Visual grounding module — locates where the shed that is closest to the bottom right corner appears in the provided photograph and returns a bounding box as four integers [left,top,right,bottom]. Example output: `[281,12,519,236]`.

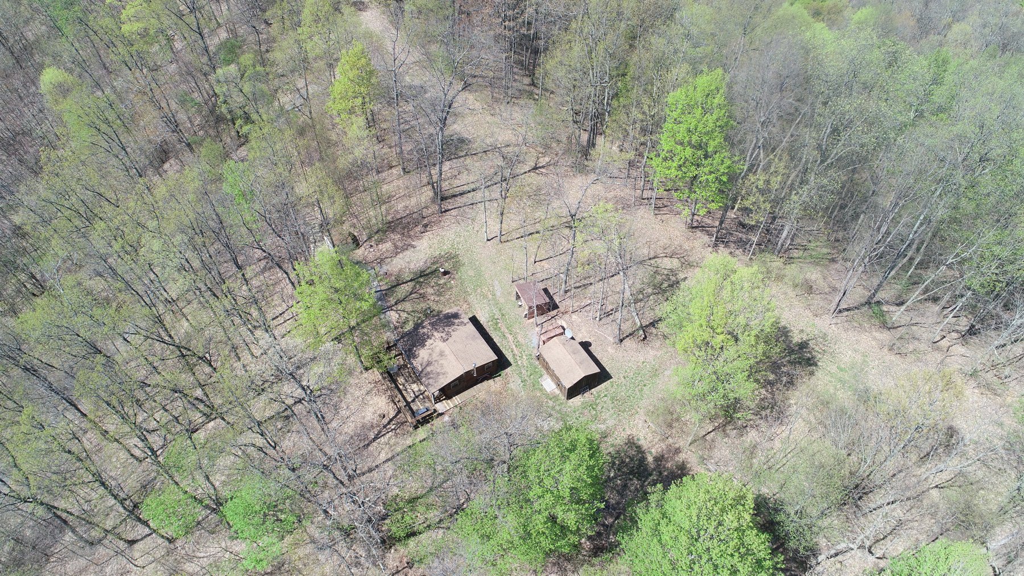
[539,336,600,397]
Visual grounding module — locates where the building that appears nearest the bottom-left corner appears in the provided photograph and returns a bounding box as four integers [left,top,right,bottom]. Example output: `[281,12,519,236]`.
[394,308,498,407]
